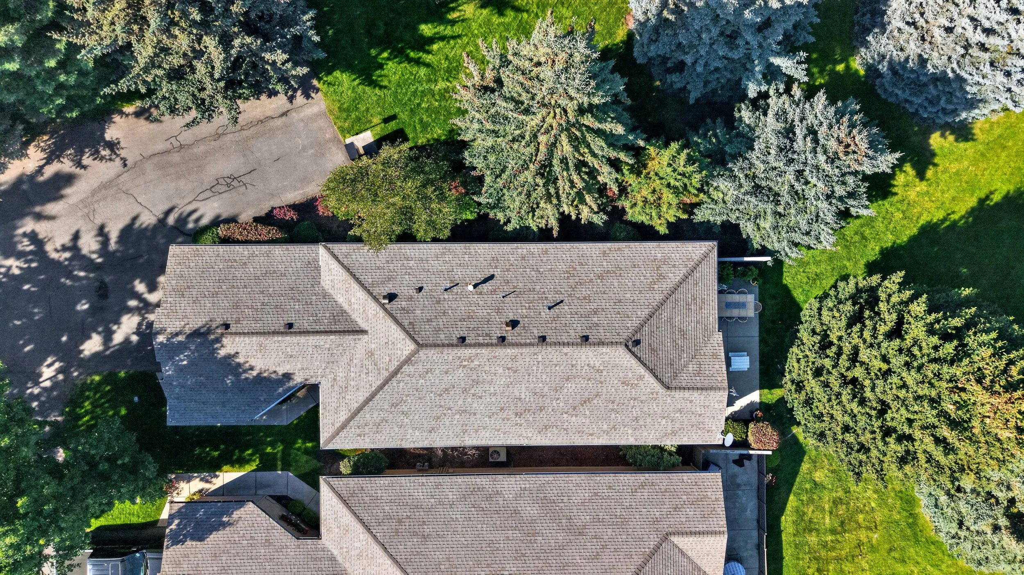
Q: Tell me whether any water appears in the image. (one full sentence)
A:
No, the scene doesn't show any water.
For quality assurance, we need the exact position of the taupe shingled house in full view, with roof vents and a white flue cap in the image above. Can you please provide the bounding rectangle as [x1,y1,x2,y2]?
[150,241,733,450]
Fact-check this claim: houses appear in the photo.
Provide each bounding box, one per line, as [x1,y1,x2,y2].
[150,241,733,450]
[153,466,730,575]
